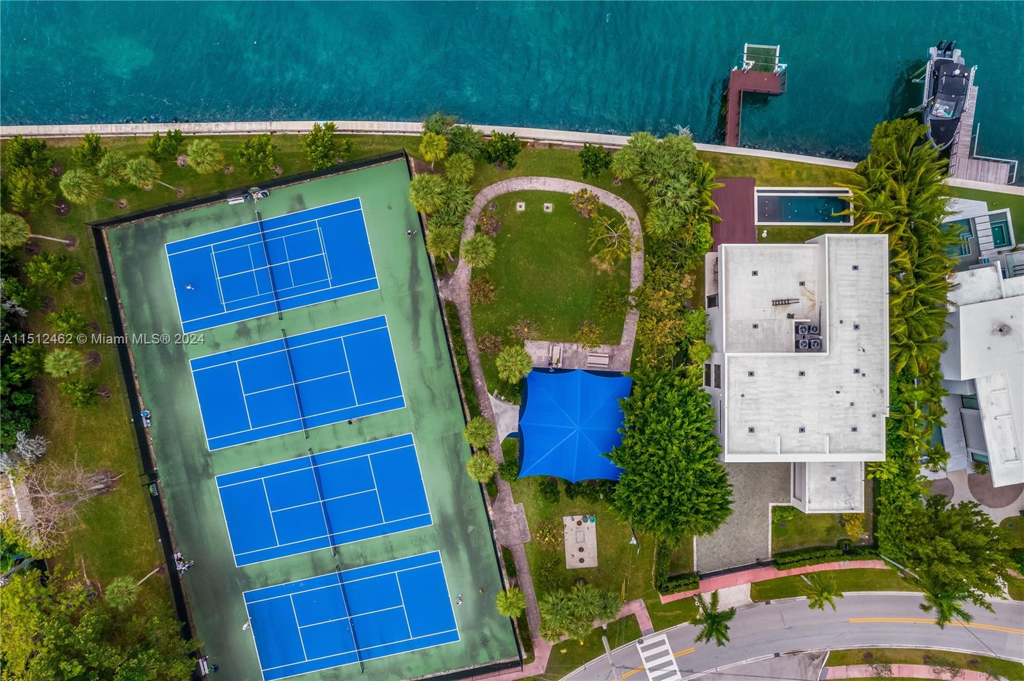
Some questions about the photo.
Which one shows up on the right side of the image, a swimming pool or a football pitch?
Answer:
swimming pool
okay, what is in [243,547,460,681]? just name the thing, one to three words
tennis court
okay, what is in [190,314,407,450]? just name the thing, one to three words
tennis court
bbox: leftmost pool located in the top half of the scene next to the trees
[754,187,853,226]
